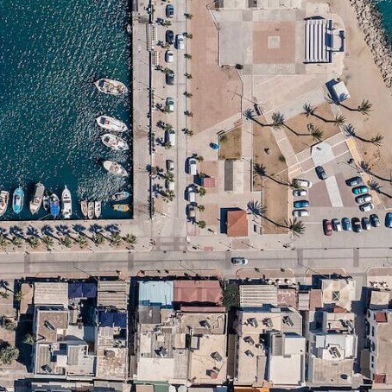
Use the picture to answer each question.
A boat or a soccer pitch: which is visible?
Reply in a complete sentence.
Visible in the photo is a boat.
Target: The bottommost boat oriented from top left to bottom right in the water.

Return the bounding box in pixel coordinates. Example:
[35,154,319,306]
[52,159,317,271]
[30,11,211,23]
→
[103,161,130,180]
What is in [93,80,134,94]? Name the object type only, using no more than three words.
boat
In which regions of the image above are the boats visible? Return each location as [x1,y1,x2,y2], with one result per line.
[94,199,100,218]
[103,161,130,180]
[49,193,58,218]
[42,194,49,212]
[86,200,93,219]
[81,200,87,218]
[111,191,129,200]
[12,187,24,214]
[111,204,129,211]
[93,80,134,94]
[59,187,72,220]
[0,191,8,215]
[94,117,127,132]
[29,183,44,215]
[99,135,127,151]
